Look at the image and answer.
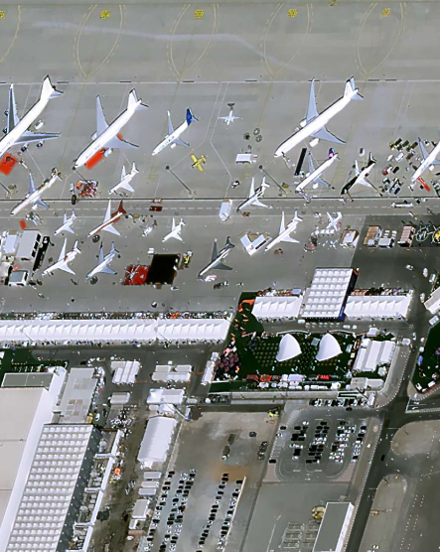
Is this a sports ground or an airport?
airport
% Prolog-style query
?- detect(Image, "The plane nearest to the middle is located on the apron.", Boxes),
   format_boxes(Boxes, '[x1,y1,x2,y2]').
[200,238,235,277]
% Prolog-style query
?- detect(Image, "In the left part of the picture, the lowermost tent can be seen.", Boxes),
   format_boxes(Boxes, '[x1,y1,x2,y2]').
[137,416,181,464]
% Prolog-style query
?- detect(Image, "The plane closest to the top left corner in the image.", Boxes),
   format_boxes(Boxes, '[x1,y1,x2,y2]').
[0,85,61,156]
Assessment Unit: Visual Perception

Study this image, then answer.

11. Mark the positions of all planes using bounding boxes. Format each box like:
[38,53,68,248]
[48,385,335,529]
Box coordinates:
[42,240,79,277]
[153,113,196,155]
[218,104,240,125]
[200,238,235,277]
[163,218,185,241]
[275,75,361,156]
[12,168,61,215]
[266,212,303,250]
[342,156,379,193]
[415,226,429,242]
[55,211,76,235]
[0,85,61,156]
[412,135,440,180]
[323,210,342,229]
[87,246,117,278]
[75,93,146,167]
[111,165,137,193]
[298,149,340,190]
[192,155,205,171]
[89,201,126,238]
[238,177,269,212]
